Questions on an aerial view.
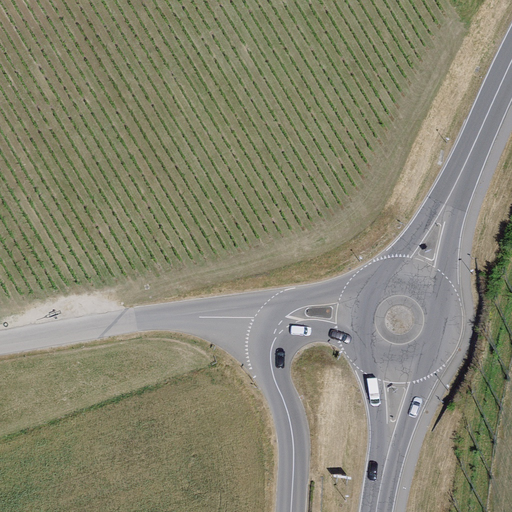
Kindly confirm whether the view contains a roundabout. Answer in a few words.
Yes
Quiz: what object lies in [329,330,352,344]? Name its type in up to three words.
car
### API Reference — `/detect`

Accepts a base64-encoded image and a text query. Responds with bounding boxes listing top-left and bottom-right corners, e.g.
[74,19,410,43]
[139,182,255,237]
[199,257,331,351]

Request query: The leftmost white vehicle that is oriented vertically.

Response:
[367,377,382,406]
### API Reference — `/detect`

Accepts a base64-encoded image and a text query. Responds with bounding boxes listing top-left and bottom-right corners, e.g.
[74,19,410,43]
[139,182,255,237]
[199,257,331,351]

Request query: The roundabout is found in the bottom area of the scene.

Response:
[338,258,462,382]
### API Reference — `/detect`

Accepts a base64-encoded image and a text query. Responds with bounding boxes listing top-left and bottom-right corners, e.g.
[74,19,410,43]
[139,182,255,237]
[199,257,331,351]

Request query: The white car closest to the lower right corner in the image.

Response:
[410,398,422,418]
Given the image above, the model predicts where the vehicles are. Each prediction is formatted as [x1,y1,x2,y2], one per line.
[290,326,312,336]
[275,348,286,368]
[367,377,382,406]
[368,460,378,480]
[410,398,422,418]
[329,330,352,344]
